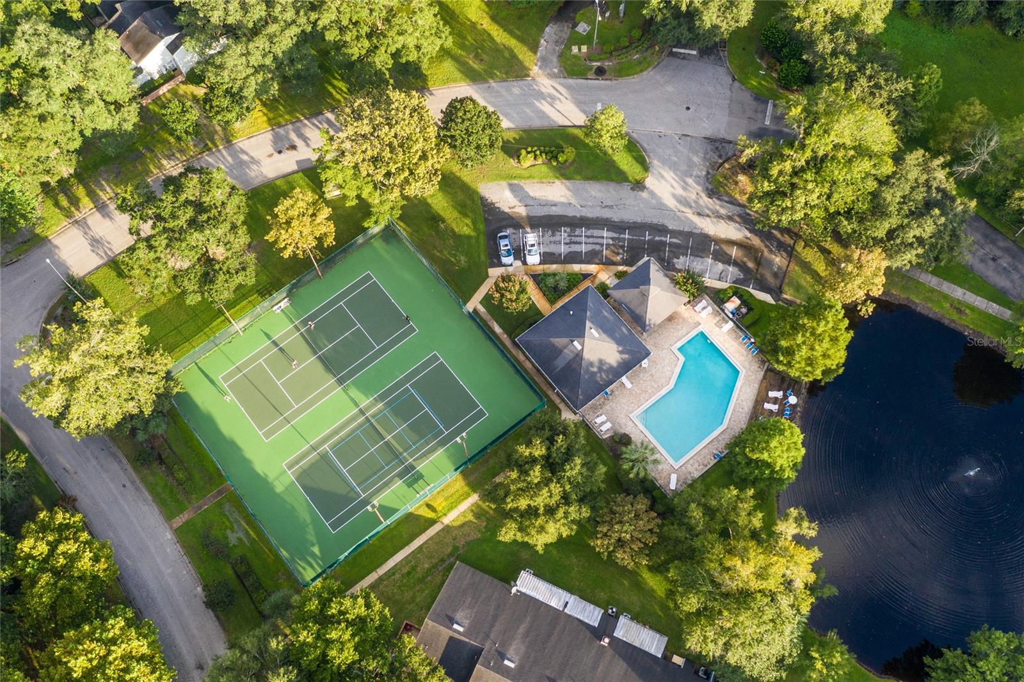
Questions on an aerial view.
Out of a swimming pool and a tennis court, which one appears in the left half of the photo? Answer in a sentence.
The one visible in the left half of the photo is a tennis court.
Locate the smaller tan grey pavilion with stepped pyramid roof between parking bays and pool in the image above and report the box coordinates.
[606,258,690,334]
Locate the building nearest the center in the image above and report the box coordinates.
[516,285,653,412]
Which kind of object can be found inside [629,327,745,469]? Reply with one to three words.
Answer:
swimming pool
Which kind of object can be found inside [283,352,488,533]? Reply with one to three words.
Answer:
tennis court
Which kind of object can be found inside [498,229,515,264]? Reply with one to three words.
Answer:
car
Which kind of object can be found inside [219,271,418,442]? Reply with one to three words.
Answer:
tennis court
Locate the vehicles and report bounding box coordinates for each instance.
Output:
[524,230,541,263]
[498,229,515,264]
